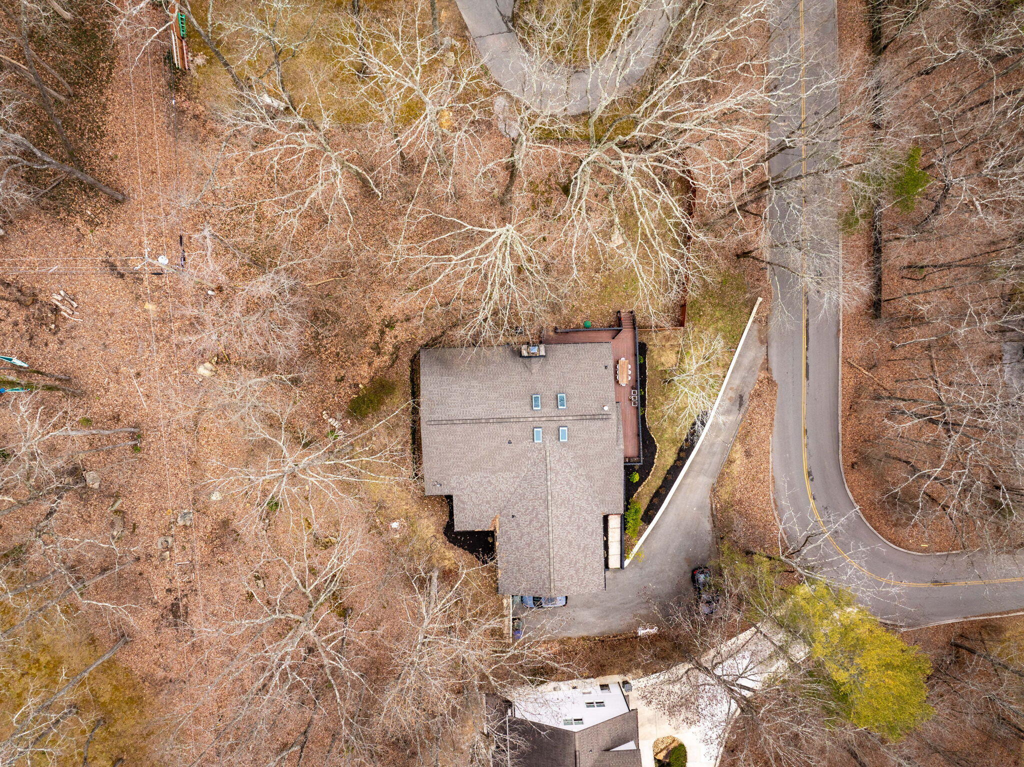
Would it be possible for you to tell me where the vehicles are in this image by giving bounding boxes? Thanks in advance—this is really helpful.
[523,595,568,608]
[690,564,719,614]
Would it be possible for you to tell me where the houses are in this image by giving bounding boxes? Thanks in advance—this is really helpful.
[419,341,624,598]
[485,680,646,767]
